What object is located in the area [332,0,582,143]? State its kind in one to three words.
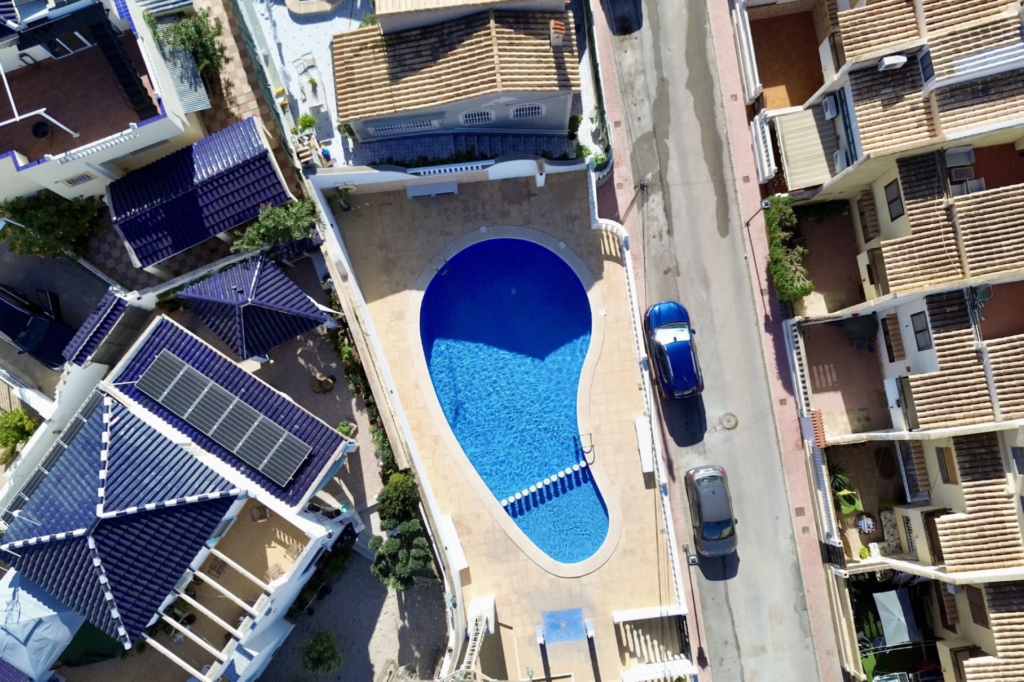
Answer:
house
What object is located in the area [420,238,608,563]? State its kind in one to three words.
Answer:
swimming pool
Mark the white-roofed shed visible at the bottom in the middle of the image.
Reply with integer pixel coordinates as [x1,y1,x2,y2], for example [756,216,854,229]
[465,594,498,632]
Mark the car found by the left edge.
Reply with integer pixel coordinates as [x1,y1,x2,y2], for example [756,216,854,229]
[0,296,73,378]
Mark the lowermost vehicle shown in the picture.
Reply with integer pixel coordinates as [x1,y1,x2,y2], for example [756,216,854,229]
[683,463,739,559]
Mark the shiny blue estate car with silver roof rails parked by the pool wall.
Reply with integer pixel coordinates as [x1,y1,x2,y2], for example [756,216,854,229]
[644,301,703,401]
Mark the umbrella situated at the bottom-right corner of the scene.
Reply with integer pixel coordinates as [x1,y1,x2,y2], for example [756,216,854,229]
[866,588,918,648]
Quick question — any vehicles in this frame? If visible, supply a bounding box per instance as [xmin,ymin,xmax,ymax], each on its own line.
[683,463,739,559]
[0,296,73,378]
[644,301,703,401]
